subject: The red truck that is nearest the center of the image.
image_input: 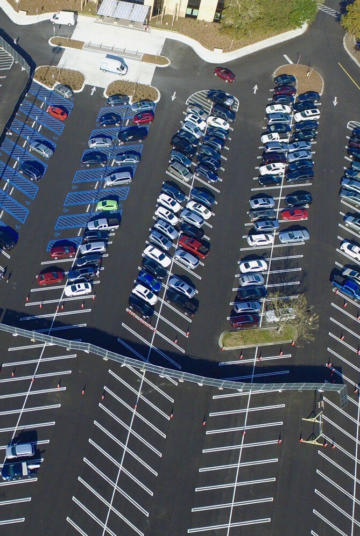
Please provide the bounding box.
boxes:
[179,235,211,258]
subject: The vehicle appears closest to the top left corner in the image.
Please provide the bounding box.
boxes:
[51,12,77,26]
